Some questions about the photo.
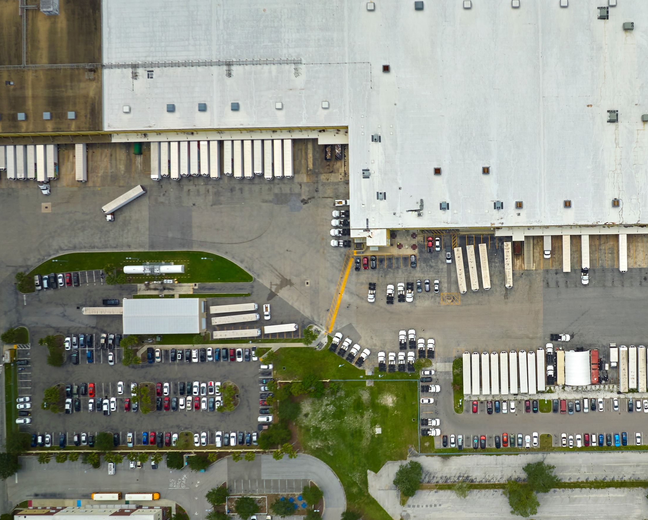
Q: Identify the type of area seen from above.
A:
industrial area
